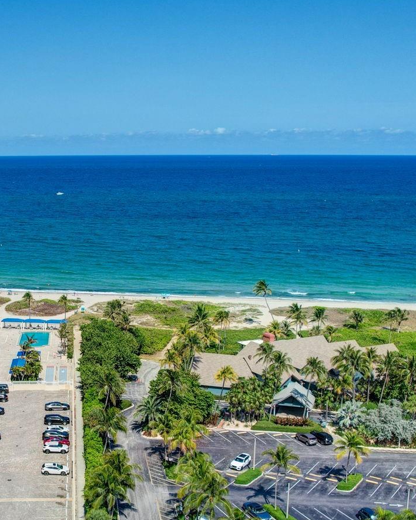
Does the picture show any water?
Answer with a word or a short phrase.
Yes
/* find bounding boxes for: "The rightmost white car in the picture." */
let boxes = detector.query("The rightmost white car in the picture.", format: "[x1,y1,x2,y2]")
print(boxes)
[230,452,251,470]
